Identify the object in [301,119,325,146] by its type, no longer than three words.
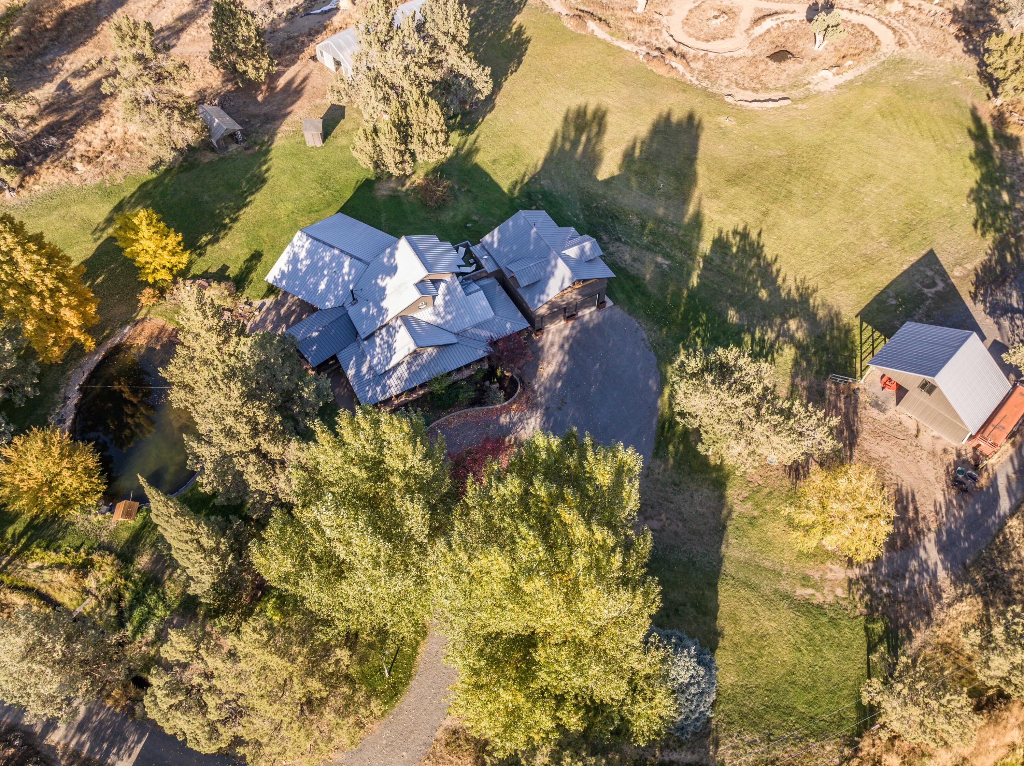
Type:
shed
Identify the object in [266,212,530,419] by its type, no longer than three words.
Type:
house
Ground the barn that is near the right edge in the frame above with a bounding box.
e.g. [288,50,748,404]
[861,321,1014,447]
